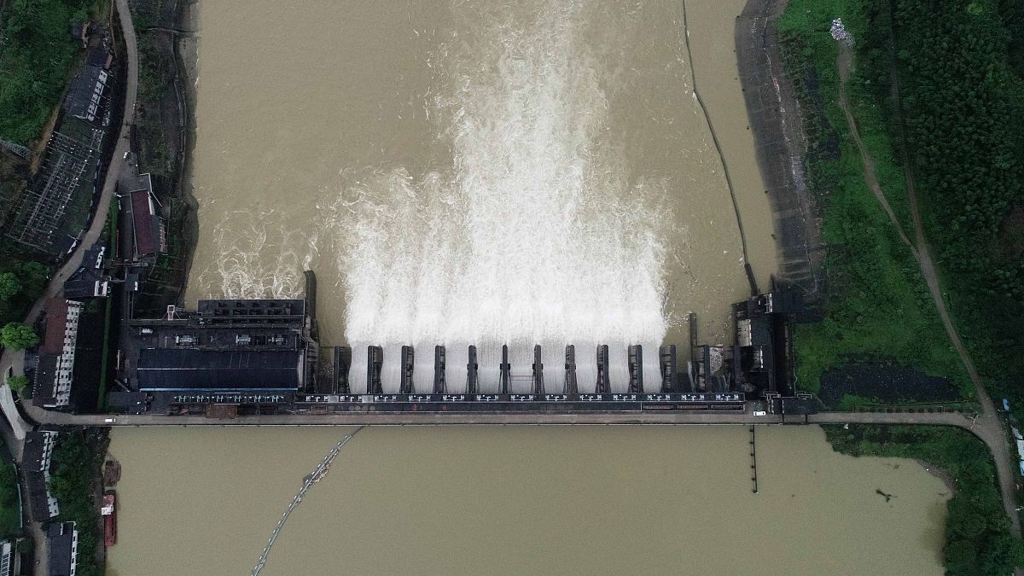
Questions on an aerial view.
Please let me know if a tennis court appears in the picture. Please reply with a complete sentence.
No, there isn't any tennis court down there.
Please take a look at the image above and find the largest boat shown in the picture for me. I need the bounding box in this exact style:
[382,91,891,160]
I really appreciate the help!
[101,490,116,547]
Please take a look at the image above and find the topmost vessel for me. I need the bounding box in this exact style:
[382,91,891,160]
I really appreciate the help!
[104,461,120,486]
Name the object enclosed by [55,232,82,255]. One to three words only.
shed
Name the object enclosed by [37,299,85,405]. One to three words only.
building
